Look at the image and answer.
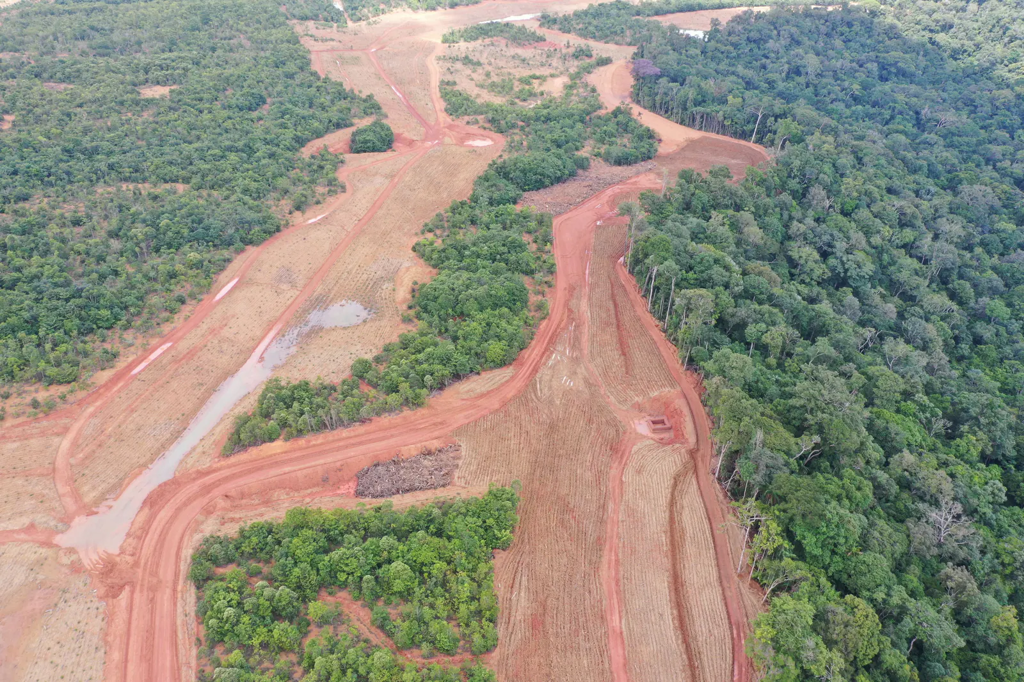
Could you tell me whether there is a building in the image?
No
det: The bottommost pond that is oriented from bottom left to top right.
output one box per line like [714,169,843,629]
[58,322,285,569]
